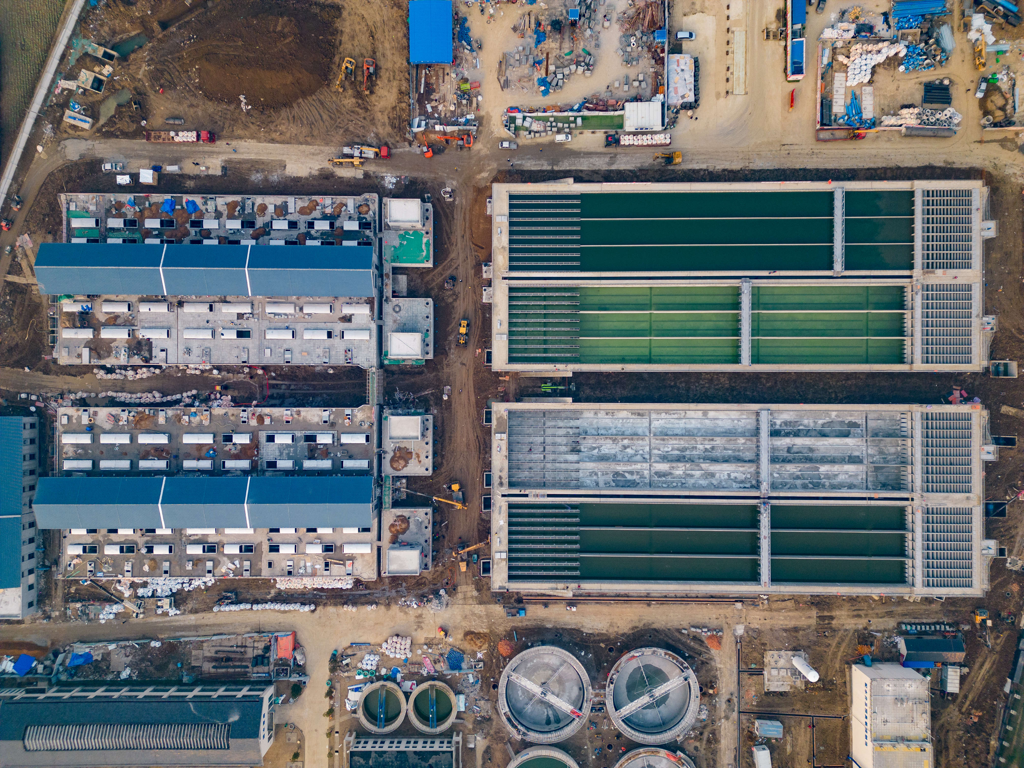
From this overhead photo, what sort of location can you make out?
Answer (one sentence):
What you see here is an industrial area.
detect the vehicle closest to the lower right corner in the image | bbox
[973,608,992,642]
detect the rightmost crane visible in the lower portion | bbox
[452,545,488,583]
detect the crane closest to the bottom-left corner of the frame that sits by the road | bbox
[70,582,149,621]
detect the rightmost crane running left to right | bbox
[375,478,469,513]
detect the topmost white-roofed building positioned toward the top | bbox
[622,102,661,136]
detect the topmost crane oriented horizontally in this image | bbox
[320,154,361,168]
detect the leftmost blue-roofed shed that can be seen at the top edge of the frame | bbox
[410,0,453,73]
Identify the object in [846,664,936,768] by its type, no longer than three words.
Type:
building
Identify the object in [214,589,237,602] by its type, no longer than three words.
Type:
vehicle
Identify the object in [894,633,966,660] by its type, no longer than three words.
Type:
shed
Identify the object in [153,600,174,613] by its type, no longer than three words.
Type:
vehicle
